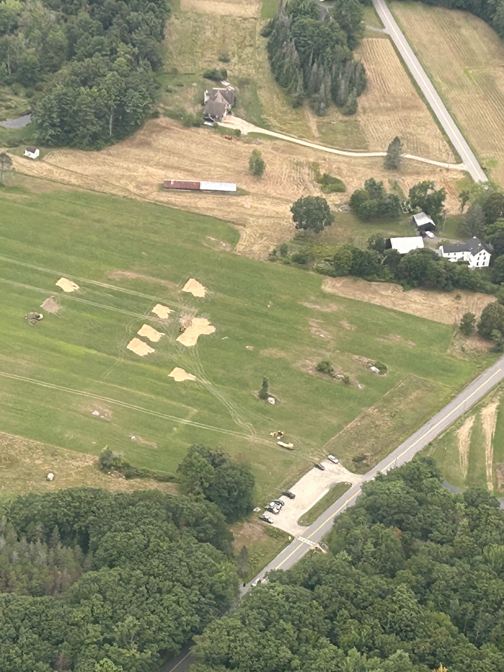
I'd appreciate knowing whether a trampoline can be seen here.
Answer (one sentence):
No, no trampoline is visible in the view.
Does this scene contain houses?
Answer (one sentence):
Yes, the frame does contain a house.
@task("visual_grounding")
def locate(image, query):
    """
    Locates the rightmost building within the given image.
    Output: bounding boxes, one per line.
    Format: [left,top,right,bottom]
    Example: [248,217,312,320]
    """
[442,236,491,270]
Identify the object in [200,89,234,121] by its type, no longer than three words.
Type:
house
